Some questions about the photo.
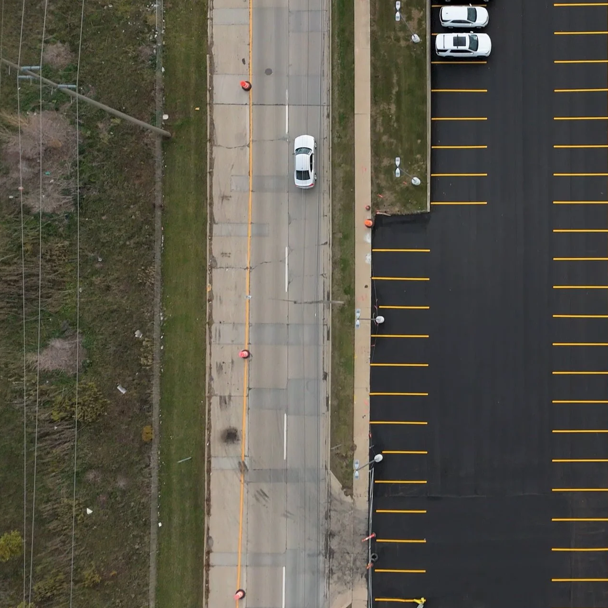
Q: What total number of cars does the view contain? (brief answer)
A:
3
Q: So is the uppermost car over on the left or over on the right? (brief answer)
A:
right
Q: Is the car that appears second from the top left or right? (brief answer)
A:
right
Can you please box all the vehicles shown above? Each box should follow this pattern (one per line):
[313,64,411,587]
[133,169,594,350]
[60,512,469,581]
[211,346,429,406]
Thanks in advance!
[439,2,489,29]
[294,136,317,189]
[436,30,492,57]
